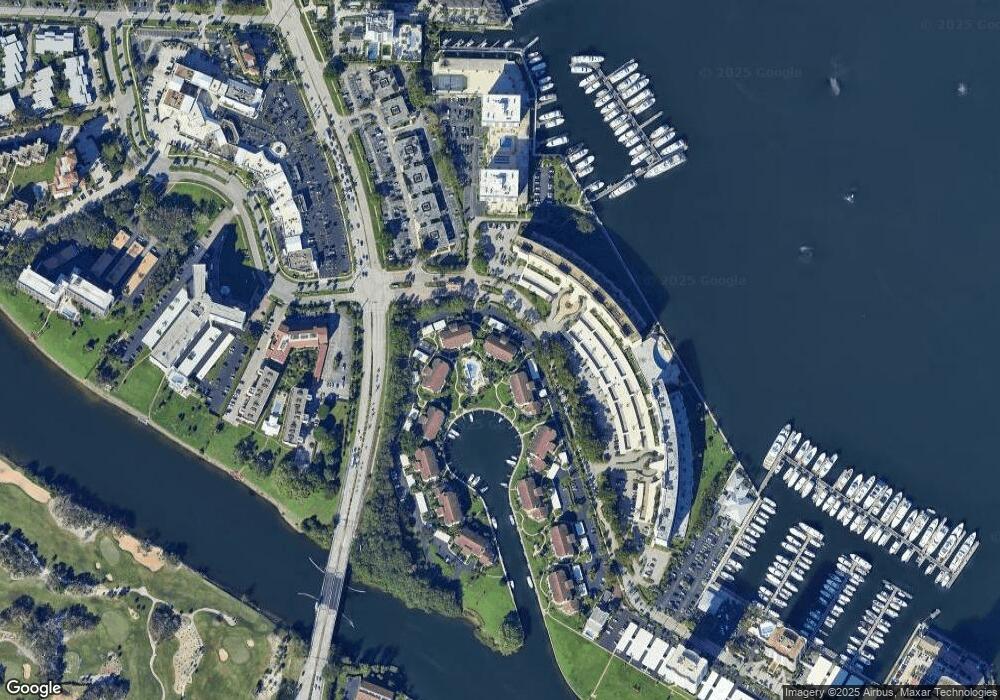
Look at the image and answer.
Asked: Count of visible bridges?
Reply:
1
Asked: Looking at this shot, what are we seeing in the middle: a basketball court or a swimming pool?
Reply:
swimming pool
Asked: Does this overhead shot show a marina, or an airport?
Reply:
marina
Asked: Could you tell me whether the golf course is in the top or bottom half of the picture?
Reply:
bottom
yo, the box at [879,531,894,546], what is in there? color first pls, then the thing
white boat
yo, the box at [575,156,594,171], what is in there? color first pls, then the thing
white boat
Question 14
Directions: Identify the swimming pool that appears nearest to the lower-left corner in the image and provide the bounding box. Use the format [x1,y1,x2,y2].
[168,366,189,396]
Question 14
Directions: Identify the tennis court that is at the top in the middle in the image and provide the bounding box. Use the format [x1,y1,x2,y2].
[431,74,467,92]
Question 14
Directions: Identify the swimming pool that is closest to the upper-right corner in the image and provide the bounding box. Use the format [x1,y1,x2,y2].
[657,336,672,361]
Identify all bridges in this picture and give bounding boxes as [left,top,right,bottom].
[297,528,365,679]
